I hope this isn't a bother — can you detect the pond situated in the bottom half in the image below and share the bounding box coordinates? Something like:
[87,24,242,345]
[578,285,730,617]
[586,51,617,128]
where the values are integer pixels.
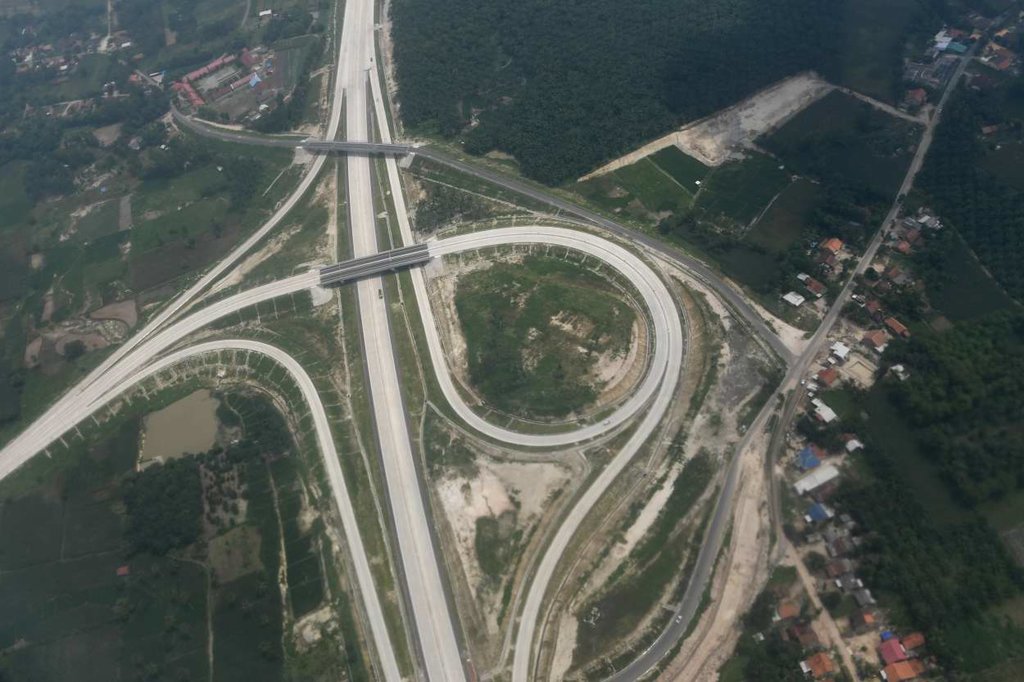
[139,388,219,467]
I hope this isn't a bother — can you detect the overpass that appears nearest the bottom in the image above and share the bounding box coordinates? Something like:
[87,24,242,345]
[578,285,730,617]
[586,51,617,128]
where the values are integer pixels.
[313,242,438,287]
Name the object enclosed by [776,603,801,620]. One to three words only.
house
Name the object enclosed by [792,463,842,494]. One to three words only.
building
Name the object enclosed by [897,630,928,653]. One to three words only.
house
